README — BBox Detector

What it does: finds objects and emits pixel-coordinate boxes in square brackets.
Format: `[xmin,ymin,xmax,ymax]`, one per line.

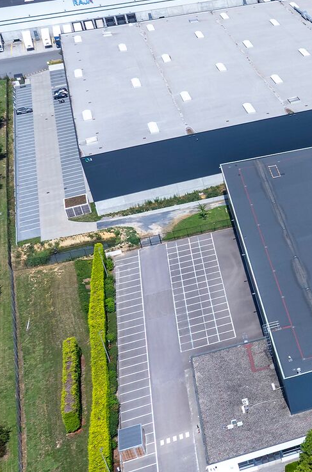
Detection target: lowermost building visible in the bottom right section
[191,337,312,472]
